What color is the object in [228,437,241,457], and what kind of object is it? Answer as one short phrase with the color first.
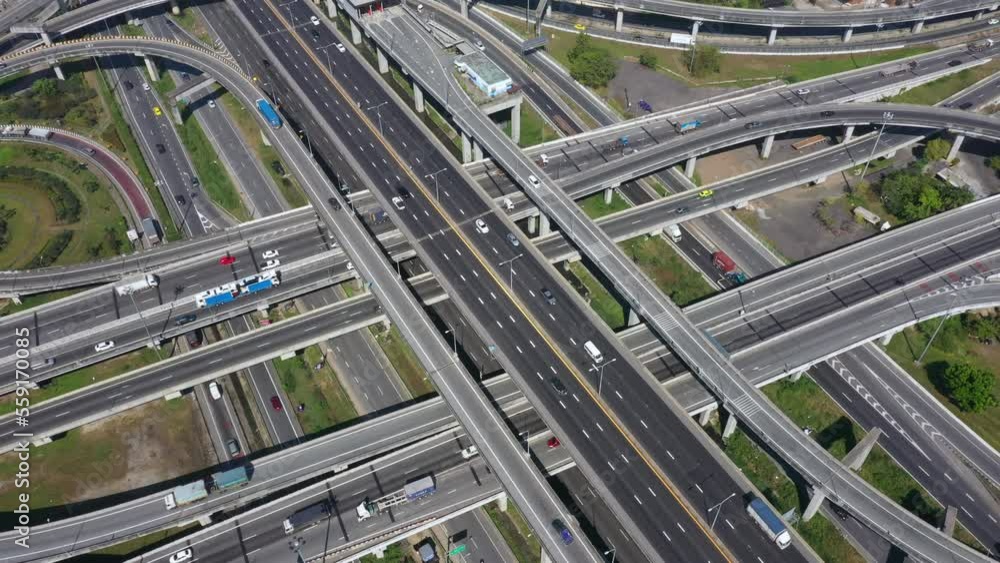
gray vehicle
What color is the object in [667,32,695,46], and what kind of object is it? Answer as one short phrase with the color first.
white vehicle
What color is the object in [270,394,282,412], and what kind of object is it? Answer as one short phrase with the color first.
red vehicle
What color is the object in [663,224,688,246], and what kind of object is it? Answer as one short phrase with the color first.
white truck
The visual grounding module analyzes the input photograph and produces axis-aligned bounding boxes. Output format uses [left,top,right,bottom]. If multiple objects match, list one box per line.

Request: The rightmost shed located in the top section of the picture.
[940,163,975,185]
